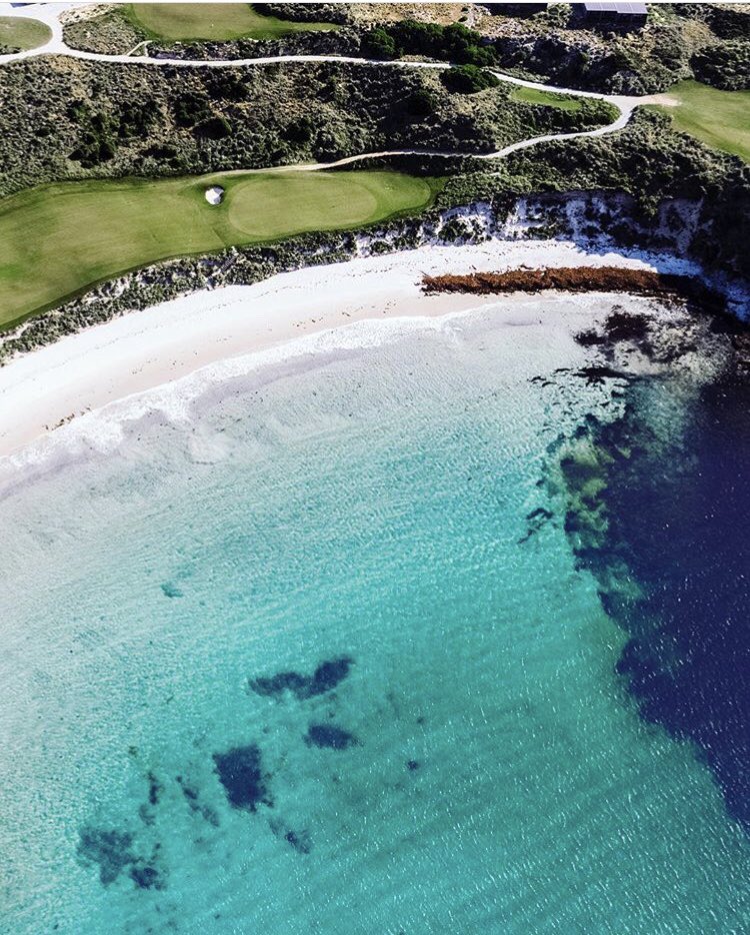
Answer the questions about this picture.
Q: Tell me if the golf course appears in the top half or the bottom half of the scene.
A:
top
